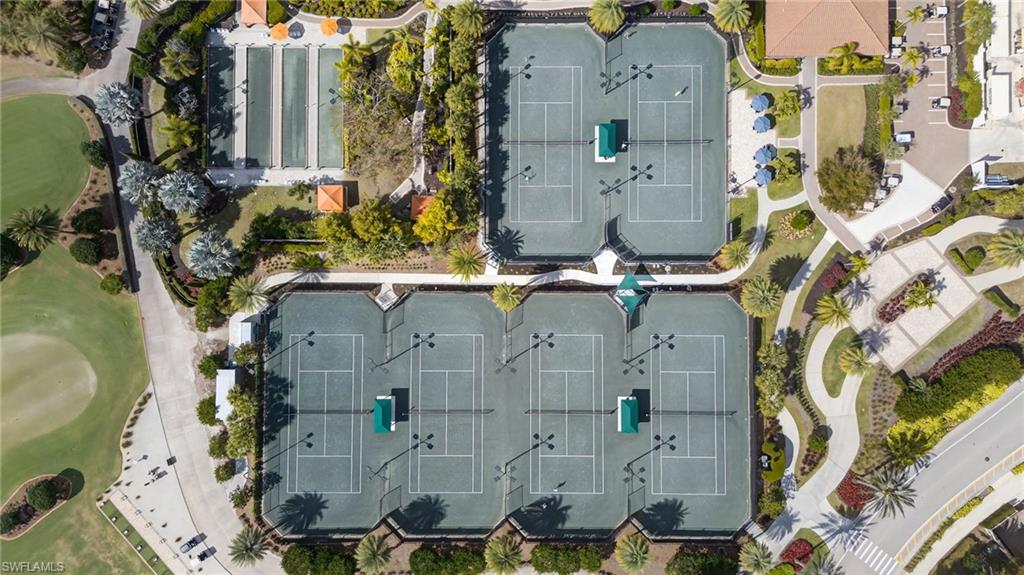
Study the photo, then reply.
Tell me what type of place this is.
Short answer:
sports ground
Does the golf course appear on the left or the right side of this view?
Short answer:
left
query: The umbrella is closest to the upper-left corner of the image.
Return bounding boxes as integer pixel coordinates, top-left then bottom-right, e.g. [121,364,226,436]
[272,24,289,41]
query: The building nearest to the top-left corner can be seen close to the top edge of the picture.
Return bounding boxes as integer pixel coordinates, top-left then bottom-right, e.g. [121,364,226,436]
[242,0,273,29]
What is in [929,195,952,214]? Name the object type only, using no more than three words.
car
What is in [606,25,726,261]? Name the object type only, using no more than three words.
tennis court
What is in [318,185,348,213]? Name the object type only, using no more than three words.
building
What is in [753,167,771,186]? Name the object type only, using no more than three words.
umbrella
